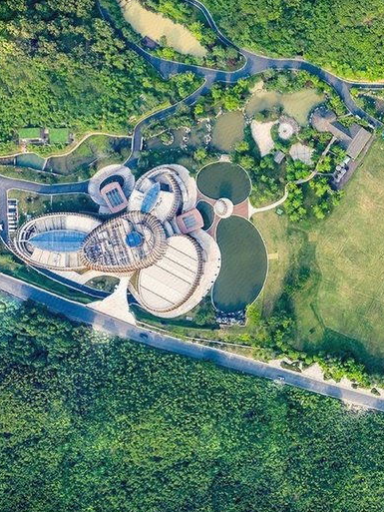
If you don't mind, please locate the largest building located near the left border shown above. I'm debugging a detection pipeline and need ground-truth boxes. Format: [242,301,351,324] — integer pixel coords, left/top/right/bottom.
[14,212,98,270]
